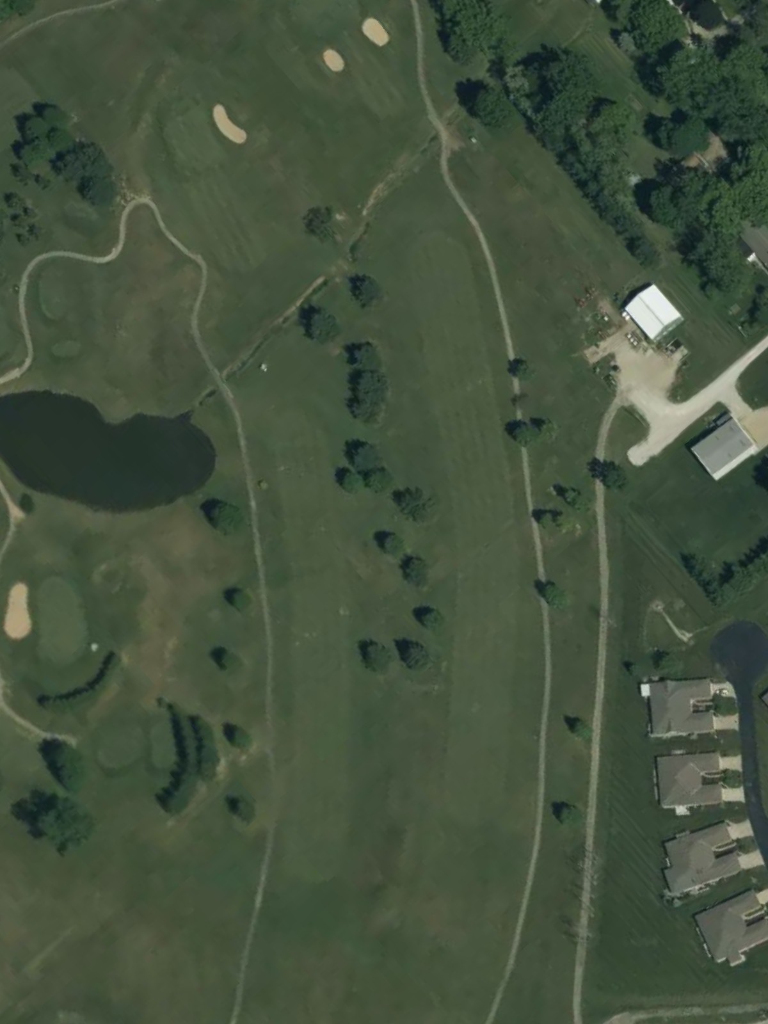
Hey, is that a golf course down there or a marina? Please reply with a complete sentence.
It's a golf course.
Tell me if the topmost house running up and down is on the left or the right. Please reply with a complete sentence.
It is on the right.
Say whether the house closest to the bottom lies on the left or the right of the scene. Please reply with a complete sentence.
The house closest to the bottom sits on the right side.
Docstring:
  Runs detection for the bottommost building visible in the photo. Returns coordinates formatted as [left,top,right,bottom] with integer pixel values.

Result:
[694,885,768,962]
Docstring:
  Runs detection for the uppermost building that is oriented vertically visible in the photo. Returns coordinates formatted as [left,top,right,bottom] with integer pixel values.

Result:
[740,216,768,276]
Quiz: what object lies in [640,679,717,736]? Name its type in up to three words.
house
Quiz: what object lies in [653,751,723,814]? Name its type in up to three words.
house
